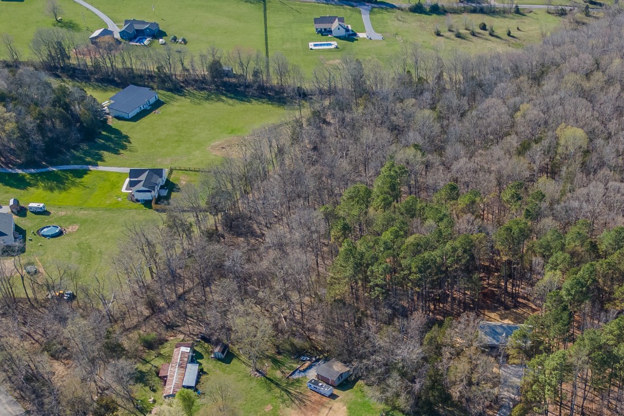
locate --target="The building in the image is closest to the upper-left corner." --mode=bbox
[89,26,122,45]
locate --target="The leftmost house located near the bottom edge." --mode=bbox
[155,343,199,399]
